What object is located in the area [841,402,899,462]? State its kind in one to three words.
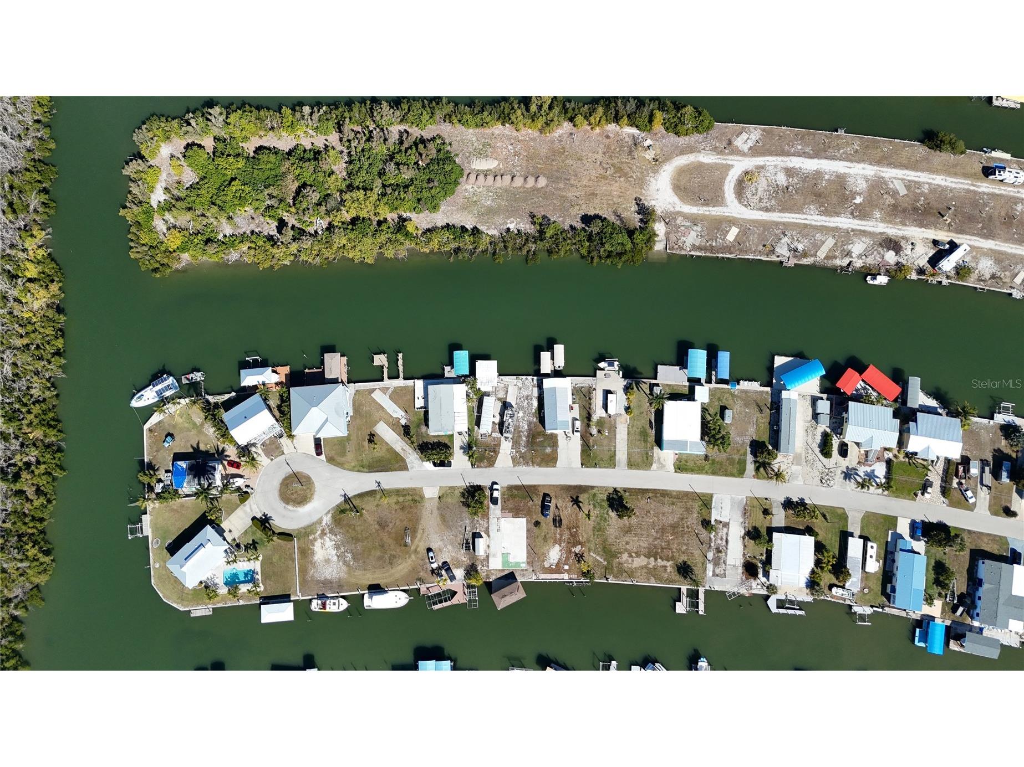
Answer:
house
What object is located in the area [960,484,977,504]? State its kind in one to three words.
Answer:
vehicle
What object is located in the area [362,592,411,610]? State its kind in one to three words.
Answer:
boat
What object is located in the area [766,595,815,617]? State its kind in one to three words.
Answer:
pier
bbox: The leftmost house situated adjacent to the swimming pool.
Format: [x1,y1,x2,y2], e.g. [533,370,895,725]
[166,525,236,589]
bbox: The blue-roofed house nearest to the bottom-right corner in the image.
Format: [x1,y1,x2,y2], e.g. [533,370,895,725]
[884,539,927,612]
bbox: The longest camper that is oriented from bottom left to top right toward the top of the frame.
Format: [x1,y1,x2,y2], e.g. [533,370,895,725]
[939,238,979,272]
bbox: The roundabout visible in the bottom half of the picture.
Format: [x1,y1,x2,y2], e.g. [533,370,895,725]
[278,471,314,507]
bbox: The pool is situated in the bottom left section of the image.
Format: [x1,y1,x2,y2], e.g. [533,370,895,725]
[223,568,255,588]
